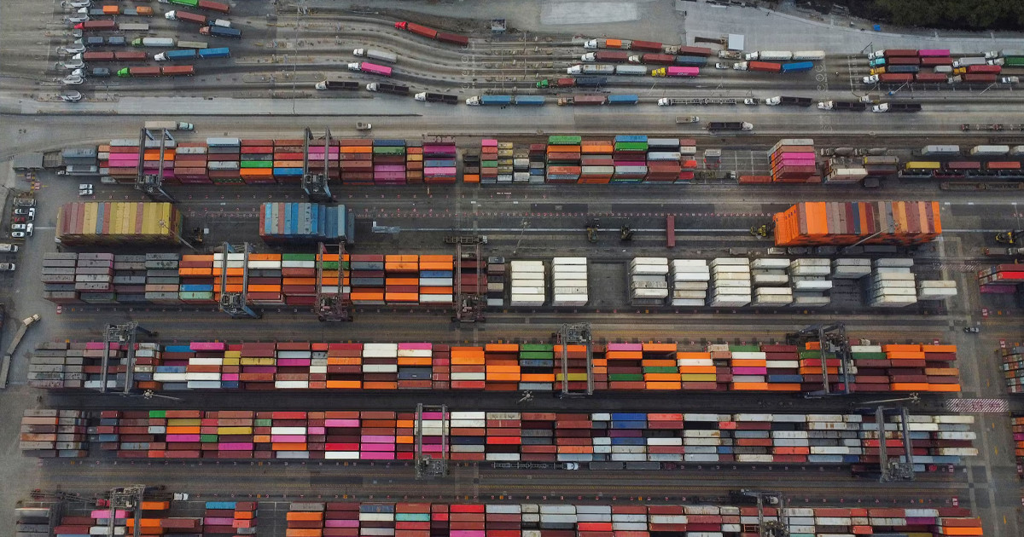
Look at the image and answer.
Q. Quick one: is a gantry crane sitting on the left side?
Yes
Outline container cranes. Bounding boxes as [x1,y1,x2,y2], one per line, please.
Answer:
[316,242,355,326]
[107,481,171,537]
[551,322,594,399]
[300,129,336,205]
[134,129,188,206]
[98,323,163,397]
[729,485,787,537]
[842,405,915,480]
[218,243,266,322]
[788,323,851,398]
[416,402,452,479]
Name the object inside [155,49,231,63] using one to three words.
vehicle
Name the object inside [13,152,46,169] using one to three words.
shed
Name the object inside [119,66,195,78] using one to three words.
vehicle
